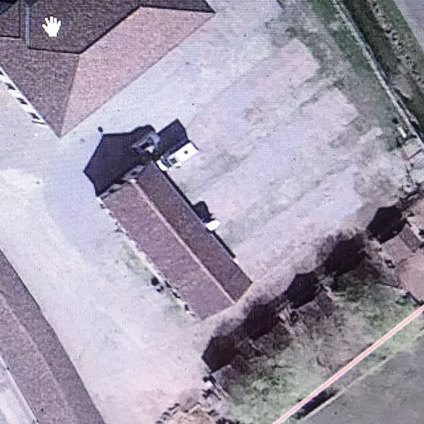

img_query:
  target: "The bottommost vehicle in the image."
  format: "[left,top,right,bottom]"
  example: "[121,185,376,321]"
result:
[204,215,220,231]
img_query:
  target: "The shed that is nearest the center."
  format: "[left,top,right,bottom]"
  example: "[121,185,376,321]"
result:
[94,161,253,320]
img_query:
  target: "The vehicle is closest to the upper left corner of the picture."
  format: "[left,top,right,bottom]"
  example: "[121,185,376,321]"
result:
[132,132,158,156]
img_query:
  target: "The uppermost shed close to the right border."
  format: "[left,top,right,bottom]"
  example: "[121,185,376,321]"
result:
[374,227,424,263]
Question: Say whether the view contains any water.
No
